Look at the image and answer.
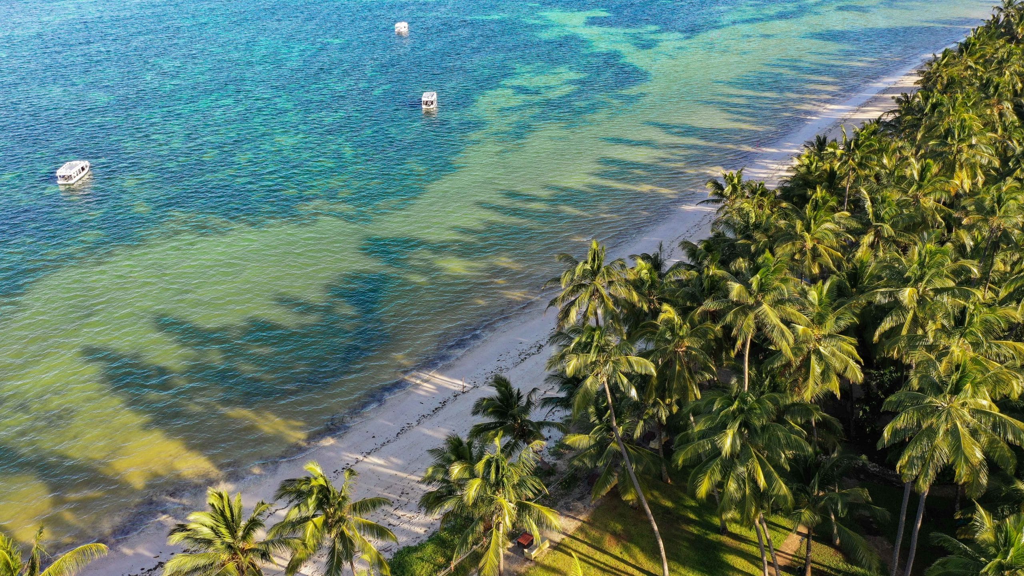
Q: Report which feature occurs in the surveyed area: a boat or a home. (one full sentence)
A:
It is a boat that can be seen here.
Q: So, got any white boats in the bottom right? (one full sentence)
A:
No, no white boat is visible in the bottom right.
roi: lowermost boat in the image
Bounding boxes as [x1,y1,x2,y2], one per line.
[56,153,93,184]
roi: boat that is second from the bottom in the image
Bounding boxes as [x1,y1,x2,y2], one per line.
[423,88,436,109]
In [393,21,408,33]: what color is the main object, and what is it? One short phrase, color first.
white boat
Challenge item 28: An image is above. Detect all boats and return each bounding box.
[423,88,436,109]
[56,153,93,184]
[393,21,408,33]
